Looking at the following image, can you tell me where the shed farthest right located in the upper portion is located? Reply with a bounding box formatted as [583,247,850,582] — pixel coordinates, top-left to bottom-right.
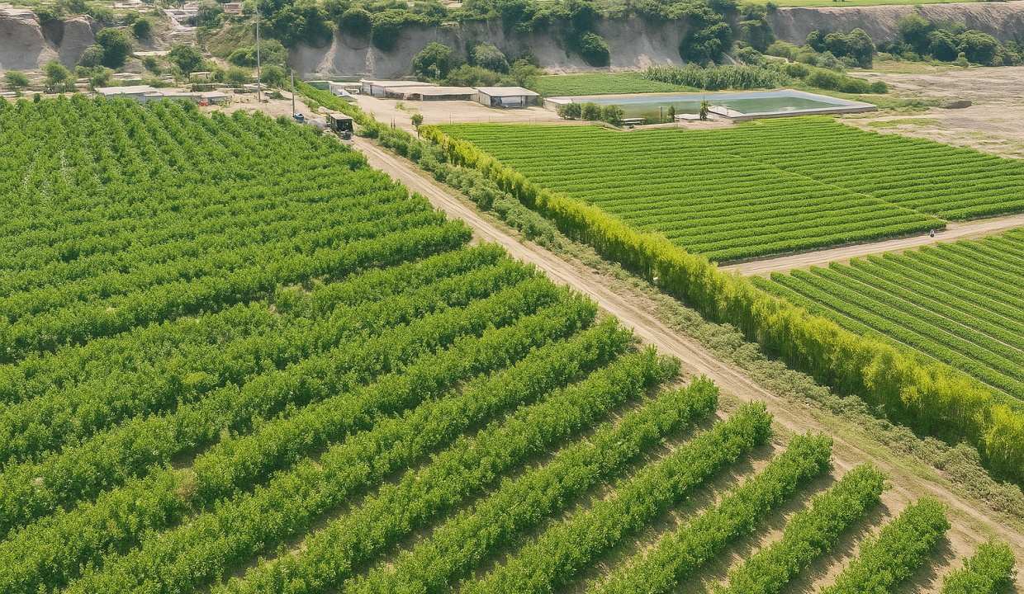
[550,95,603,112]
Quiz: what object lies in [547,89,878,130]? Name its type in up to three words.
pond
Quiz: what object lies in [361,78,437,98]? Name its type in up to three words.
shed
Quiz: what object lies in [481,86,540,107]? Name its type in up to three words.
shed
